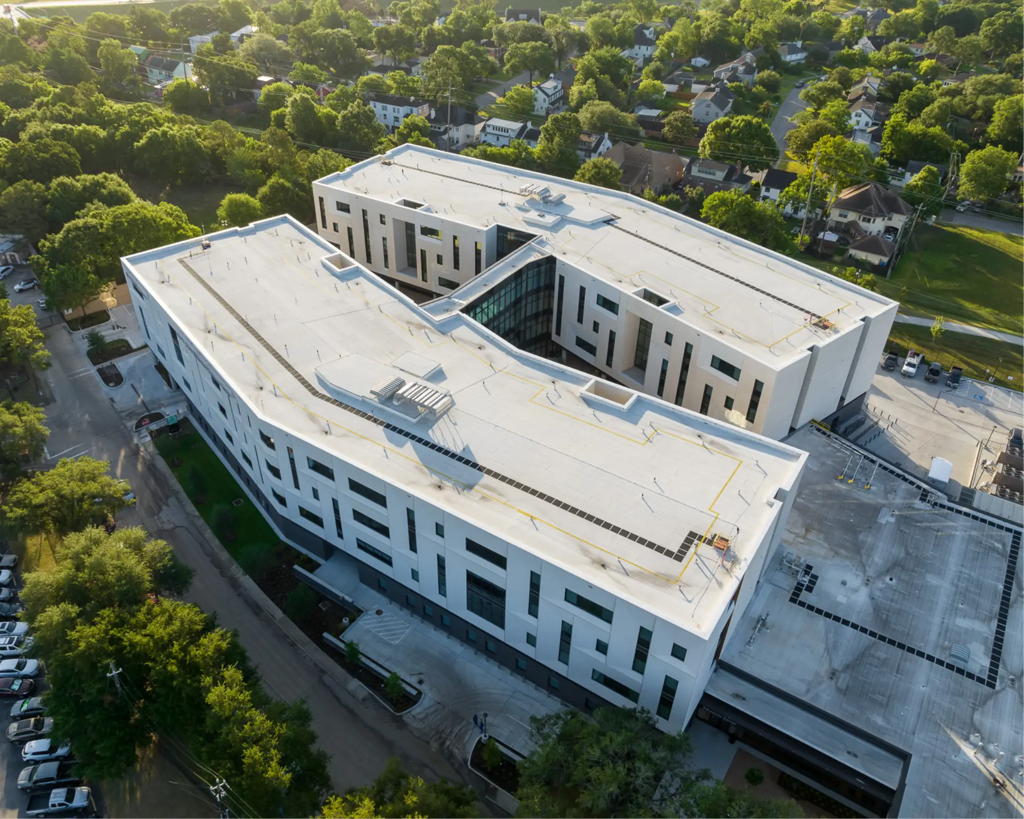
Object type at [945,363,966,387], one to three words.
truck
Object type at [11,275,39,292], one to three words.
car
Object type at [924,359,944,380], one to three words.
vehicle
